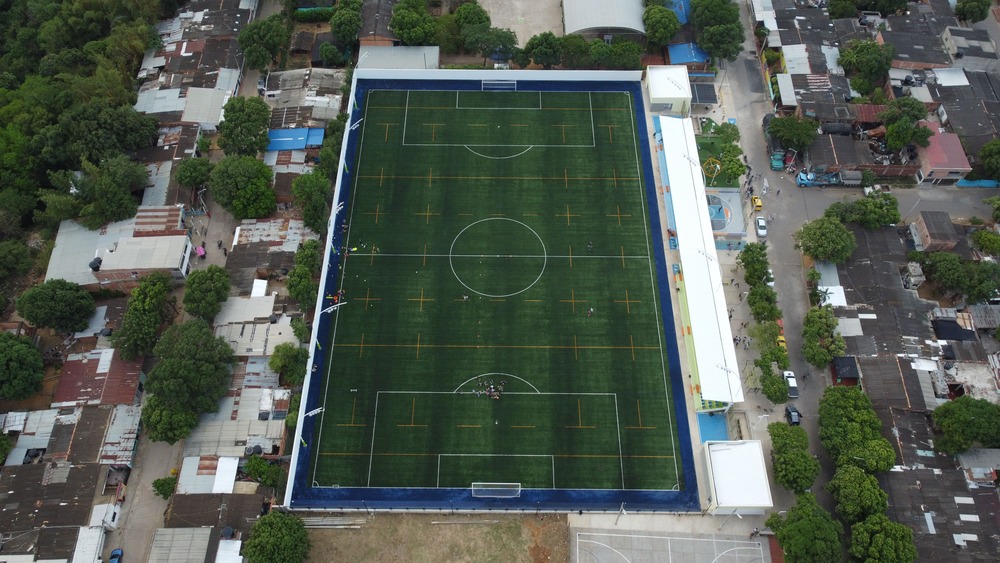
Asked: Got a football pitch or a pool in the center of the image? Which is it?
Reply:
football pitch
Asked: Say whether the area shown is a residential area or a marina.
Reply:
residential area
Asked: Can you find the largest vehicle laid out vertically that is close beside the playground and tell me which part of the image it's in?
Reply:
top right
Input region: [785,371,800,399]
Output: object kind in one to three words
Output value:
vehicle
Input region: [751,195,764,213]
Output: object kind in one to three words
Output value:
vehicle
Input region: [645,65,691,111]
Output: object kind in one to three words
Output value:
building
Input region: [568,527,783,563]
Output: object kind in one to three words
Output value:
sports court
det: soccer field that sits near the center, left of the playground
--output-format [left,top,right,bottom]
[291,79,698,509]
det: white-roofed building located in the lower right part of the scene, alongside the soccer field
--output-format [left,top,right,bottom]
[701,440,772,516]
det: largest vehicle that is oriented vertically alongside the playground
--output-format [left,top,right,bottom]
[763,118,783,173]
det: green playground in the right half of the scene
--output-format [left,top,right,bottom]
[695,118,744,180]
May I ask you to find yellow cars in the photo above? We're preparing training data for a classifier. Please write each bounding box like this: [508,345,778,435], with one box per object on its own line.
[751,195,764,213]
[775,337,788,352]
